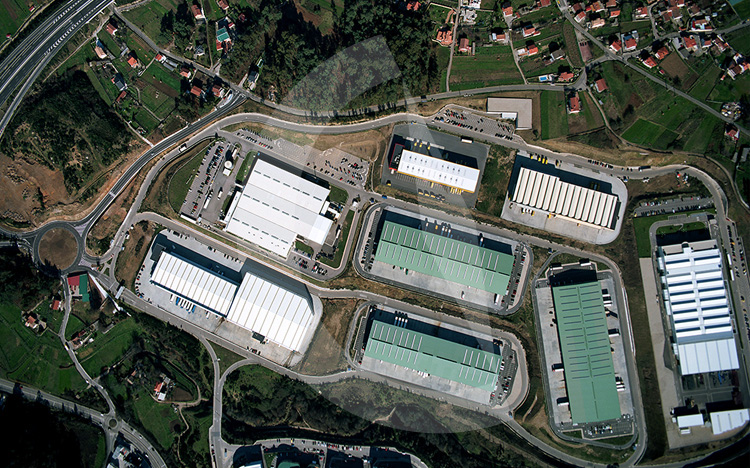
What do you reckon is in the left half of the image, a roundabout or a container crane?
roundabout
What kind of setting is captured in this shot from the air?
residential area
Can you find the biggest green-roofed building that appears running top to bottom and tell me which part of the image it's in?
bottom right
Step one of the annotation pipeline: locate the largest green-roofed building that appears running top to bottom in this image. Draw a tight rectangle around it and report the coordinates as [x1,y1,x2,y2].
[550,281,620,423]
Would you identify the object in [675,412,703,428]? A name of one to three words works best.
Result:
shed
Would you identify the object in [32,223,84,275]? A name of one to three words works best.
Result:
roundabout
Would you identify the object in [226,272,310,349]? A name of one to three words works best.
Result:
building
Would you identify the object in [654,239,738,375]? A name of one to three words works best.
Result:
building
